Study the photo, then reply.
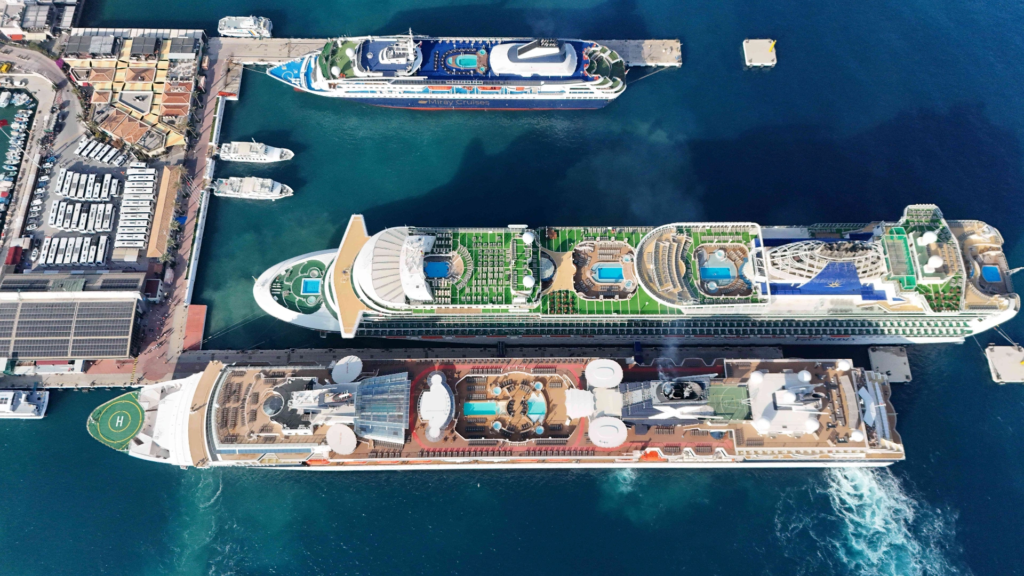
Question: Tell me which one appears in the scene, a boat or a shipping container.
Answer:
boat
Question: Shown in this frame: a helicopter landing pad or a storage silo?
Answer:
helicopter landing pad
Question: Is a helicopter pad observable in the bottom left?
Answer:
Yes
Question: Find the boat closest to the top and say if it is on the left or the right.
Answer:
left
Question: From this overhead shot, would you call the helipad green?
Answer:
Yes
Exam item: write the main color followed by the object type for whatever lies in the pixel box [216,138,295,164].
white boat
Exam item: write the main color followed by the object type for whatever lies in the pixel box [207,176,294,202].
white boat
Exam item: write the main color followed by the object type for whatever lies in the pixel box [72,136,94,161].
white bus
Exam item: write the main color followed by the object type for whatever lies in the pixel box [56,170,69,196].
white vehicle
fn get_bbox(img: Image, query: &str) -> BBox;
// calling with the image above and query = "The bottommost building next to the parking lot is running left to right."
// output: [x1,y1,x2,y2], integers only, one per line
[0,301,145,364]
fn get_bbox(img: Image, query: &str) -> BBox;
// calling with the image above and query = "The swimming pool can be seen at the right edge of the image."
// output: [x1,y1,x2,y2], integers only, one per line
[981,264,1003,284]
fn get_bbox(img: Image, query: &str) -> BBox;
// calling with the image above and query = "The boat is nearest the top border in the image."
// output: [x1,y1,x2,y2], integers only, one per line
[218,14,272,38]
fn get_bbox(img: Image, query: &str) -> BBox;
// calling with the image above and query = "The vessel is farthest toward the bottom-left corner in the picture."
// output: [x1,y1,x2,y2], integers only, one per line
[0,382,51,420]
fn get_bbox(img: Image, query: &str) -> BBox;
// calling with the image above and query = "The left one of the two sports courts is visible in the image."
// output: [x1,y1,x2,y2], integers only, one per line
[710,384,750,420]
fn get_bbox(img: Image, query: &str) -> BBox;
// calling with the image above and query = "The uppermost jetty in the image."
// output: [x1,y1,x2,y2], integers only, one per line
[231,38,684,68]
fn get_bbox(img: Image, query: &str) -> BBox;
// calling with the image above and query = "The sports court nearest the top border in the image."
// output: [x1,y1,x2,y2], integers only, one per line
[878,227,916,291]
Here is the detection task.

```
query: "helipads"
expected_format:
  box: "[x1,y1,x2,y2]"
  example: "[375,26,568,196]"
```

[87,392,148,453]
